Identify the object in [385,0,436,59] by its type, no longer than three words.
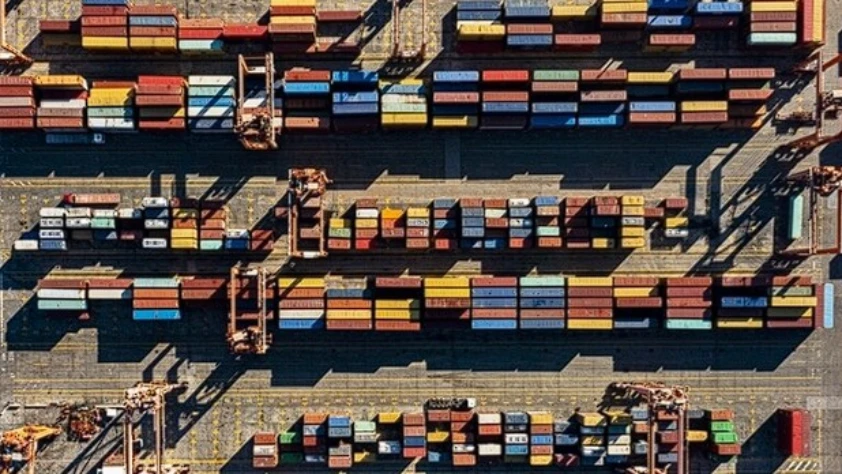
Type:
container crane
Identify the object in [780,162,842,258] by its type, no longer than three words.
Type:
container crane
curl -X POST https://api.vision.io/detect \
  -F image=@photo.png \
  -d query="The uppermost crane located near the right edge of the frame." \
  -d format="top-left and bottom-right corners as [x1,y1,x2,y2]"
[784,46,842,146]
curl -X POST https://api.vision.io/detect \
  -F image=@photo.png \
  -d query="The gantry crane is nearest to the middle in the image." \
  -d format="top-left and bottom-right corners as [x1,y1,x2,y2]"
[281,162,335,260]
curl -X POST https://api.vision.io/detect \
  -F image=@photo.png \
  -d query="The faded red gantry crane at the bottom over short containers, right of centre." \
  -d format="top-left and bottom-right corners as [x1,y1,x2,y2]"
[618,373,693,474]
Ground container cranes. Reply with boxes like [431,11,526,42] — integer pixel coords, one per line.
[281,162,335,260]
[224,260,280,358]
[618,373,693,474]
[120,373,184,474]
[385,0,436,59]
[0,0,38,59]
[229,53,287,152]
[780,162,842,258]
[784,46,842,146]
